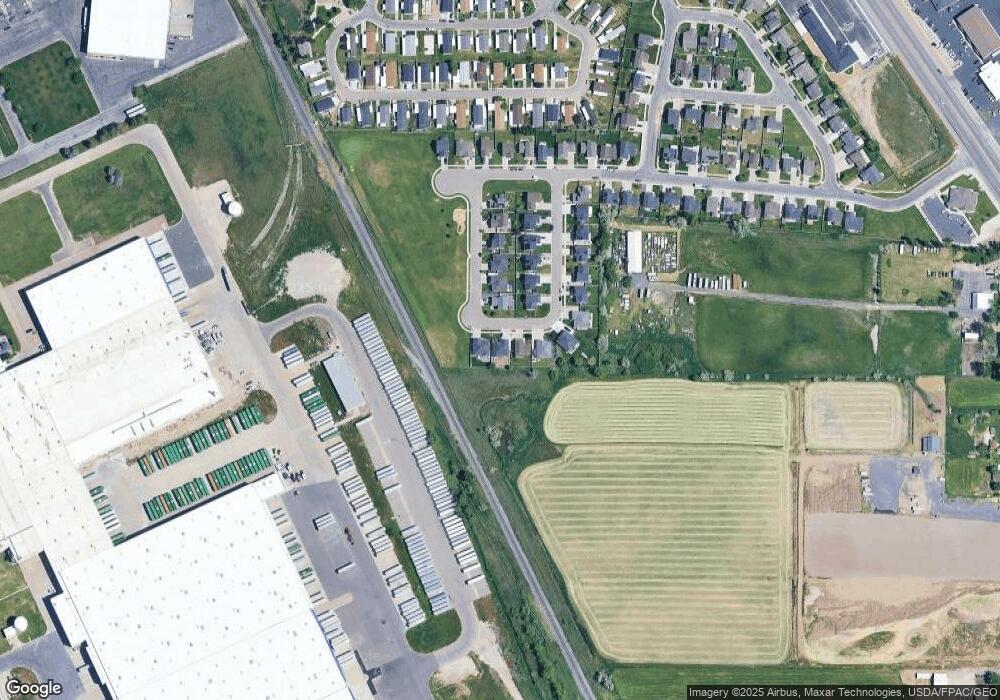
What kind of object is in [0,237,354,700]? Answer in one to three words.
warehouse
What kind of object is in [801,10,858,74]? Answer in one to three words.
building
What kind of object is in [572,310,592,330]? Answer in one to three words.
house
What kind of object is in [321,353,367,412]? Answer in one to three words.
shed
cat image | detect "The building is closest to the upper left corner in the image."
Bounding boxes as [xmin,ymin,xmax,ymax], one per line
[84,0,195,69]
